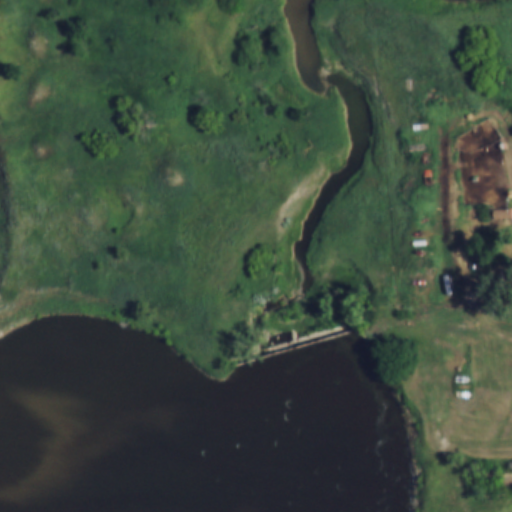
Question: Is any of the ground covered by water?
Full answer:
Yes, water shows up in the scene.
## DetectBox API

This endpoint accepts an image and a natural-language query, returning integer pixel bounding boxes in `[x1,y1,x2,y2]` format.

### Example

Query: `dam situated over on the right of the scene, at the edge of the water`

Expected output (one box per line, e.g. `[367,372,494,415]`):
[262,325,352,356]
